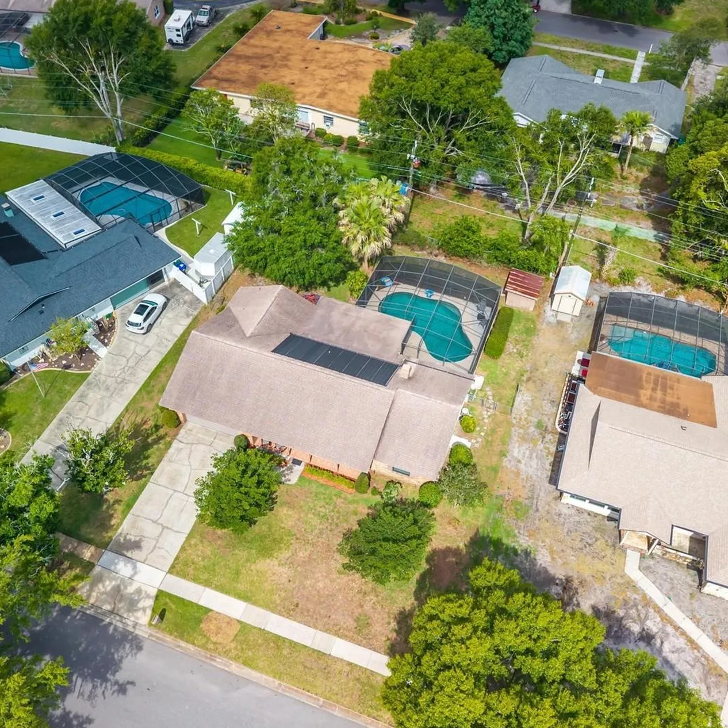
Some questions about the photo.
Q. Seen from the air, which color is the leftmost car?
white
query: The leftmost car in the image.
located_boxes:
[126,292,166,333]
